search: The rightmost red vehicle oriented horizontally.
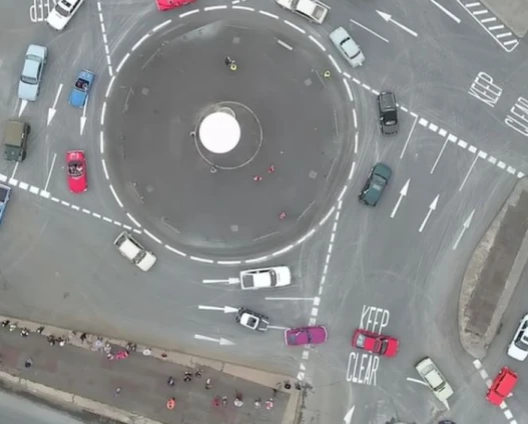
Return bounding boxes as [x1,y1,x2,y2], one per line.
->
[351,329,399,356]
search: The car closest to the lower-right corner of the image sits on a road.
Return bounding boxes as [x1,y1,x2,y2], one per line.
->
[485,367,515,405]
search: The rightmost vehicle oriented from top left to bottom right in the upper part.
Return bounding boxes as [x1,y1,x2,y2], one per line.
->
[329,27,365,68]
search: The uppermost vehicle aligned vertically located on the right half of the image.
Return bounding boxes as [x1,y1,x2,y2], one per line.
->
[376,95,399,139]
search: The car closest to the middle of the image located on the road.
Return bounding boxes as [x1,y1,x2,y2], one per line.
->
[240,265,292,288]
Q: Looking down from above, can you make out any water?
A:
No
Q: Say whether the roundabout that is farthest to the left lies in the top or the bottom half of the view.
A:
top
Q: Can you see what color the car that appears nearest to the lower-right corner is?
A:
red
